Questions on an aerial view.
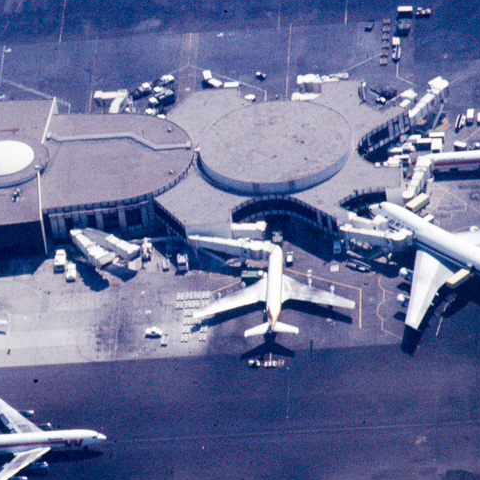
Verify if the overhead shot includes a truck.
Yes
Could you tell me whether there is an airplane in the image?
Yes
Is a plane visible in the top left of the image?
No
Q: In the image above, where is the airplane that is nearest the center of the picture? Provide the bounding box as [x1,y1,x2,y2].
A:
[194,248,358,342]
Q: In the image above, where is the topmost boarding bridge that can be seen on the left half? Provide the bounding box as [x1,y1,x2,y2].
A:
[89,91,129,115]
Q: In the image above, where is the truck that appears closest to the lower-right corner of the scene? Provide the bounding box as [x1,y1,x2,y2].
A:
[441,272,474,304]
